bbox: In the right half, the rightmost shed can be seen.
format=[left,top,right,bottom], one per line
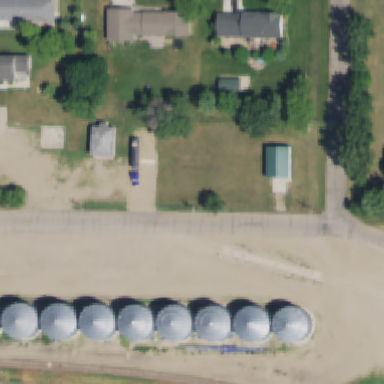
[265,146,288,178]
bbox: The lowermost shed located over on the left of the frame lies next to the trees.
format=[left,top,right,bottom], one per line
[90,121,115,156]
